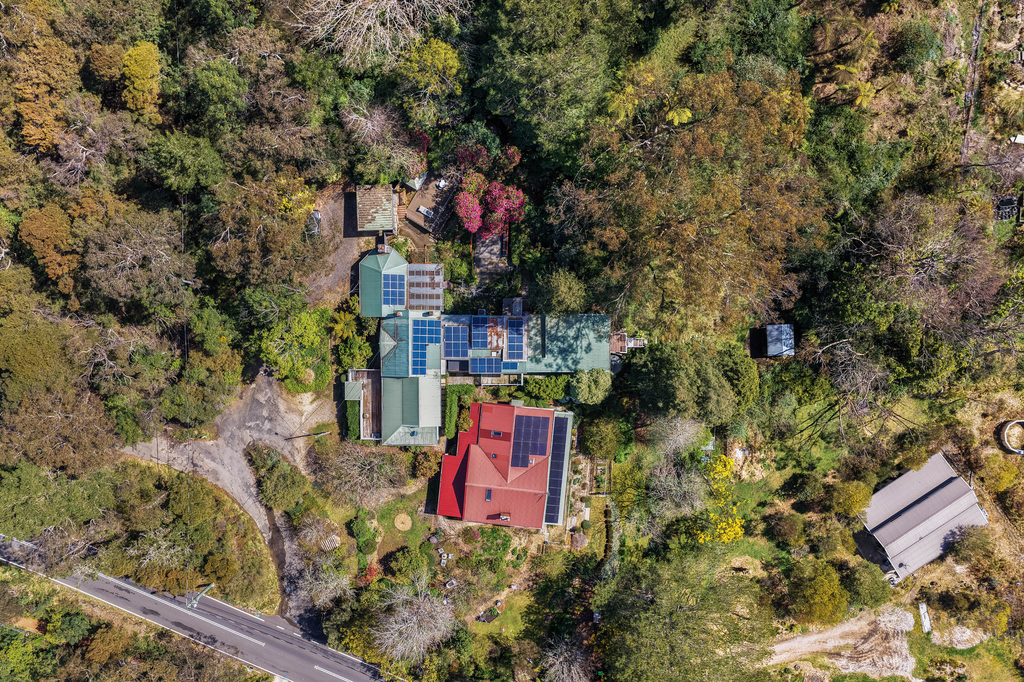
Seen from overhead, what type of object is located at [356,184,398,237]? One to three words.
shed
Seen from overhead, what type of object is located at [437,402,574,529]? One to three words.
house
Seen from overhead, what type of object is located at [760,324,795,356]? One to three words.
shed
